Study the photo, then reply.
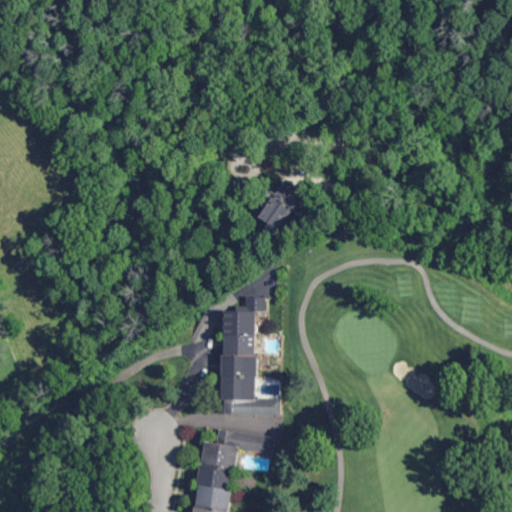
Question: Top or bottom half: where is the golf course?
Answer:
bottom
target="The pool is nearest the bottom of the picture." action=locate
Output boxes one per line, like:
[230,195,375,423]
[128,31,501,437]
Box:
[239,455,271,473]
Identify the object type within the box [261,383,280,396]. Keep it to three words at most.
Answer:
swimming pool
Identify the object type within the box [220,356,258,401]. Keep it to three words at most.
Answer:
house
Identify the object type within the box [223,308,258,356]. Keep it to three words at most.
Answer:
house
